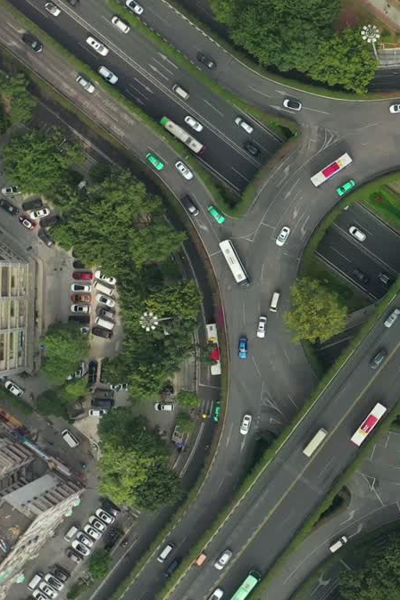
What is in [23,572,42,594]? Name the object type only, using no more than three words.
vehicle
